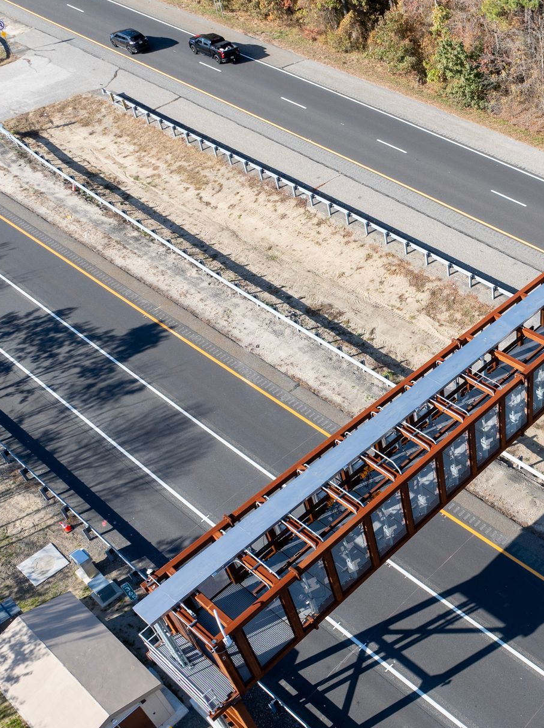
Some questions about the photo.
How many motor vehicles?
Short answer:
two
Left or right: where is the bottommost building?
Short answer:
left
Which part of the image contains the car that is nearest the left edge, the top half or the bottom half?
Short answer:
top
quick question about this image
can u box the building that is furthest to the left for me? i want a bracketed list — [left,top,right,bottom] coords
[0,597,168,728]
